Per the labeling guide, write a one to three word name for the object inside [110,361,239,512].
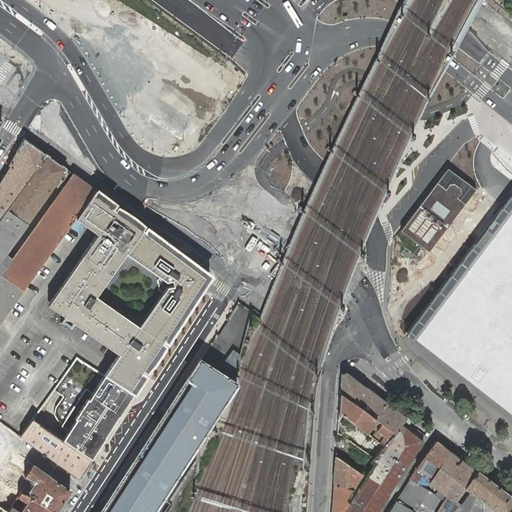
shed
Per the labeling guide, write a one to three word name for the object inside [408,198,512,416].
building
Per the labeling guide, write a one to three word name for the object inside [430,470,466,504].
house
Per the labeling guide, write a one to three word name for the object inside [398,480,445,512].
building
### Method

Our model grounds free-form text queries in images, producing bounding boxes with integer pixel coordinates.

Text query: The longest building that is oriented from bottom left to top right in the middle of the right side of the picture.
[402,168,476,252]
